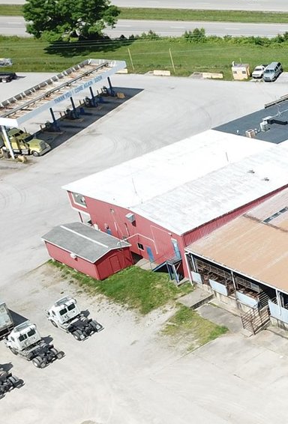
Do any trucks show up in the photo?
Yes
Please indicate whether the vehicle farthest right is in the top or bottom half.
top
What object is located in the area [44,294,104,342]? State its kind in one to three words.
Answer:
truck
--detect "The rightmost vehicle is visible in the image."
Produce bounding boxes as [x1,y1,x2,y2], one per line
[266,58,287,77]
